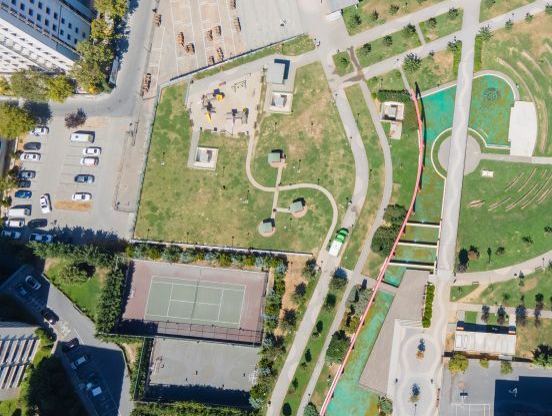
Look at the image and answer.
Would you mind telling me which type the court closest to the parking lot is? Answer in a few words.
tennis court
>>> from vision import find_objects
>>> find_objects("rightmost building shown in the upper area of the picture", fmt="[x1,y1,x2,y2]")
[381,103,404,121]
